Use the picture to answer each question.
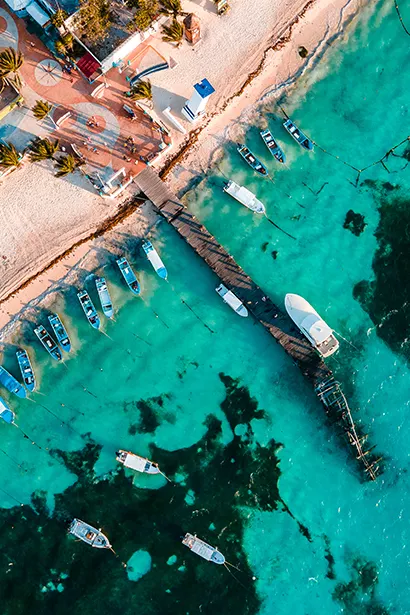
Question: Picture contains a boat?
Yes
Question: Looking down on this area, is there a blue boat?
Yes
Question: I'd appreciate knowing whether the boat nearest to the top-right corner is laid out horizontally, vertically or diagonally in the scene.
diagonally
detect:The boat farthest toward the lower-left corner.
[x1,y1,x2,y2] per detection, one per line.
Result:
[68,521,110,550]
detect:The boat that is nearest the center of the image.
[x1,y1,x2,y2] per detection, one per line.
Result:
[214,283,247,316]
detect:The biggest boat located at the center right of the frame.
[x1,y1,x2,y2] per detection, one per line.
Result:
[287,293,342,359]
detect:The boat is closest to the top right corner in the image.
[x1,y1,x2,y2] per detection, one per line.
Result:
[283,116,315,150]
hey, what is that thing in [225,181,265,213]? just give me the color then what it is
white boat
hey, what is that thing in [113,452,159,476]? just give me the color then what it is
white boat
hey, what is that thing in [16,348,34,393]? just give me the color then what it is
blue boat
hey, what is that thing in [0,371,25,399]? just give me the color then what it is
blue boat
